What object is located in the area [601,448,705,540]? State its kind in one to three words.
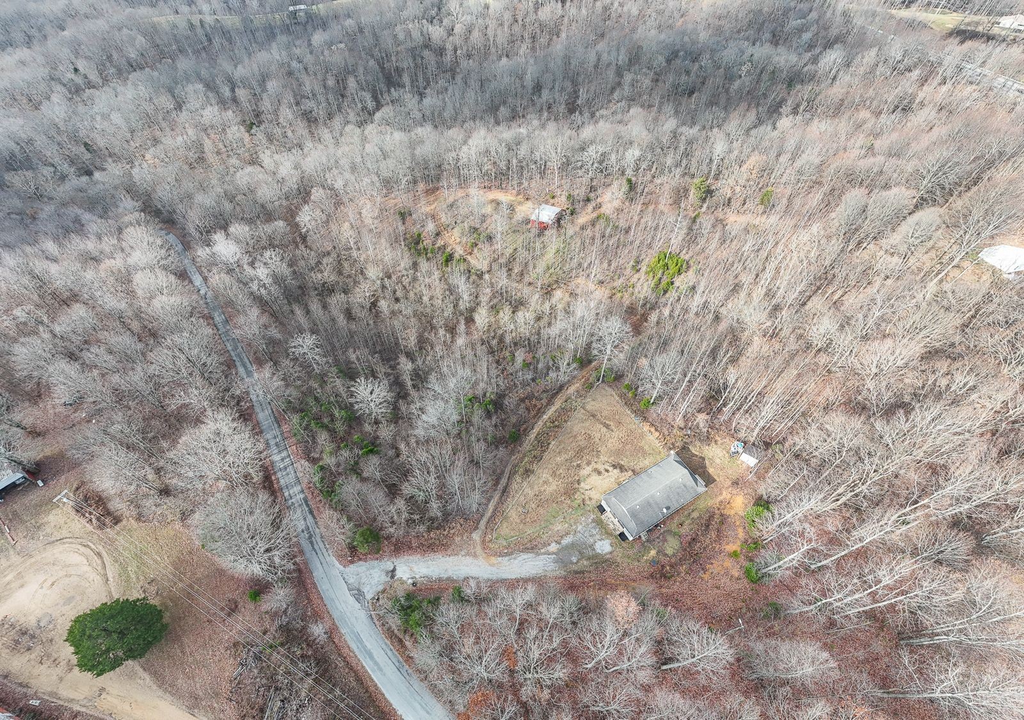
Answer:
house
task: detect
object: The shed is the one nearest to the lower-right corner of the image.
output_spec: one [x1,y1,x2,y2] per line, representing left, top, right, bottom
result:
[741,442,766,468]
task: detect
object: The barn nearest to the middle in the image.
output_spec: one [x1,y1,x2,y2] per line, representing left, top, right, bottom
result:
[528,203,569,233]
